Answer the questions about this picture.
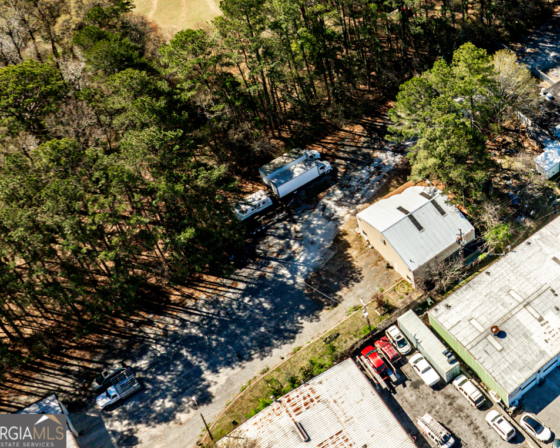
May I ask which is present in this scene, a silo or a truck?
truck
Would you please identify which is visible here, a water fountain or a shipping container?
shipping container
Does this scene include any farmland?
No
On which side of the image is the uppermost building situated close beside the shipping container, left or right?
right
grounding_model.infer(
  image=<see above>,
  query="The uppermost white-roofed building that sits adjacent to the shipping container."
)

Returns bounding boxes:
[354,182,477,285]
